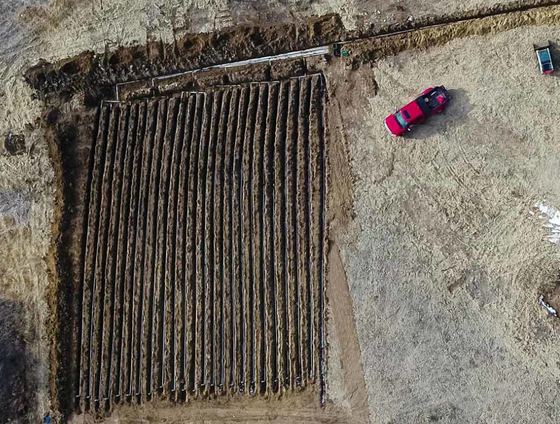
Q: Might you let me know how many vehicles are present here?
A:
2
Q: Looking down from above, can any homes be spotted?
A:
No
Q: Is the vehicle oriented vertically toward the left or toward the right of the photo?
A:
right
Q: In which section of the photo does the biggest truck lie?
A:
top right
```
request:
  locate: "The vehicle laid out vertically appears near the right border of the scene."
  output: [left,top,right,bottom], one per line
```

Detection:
[535,41,556,77]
